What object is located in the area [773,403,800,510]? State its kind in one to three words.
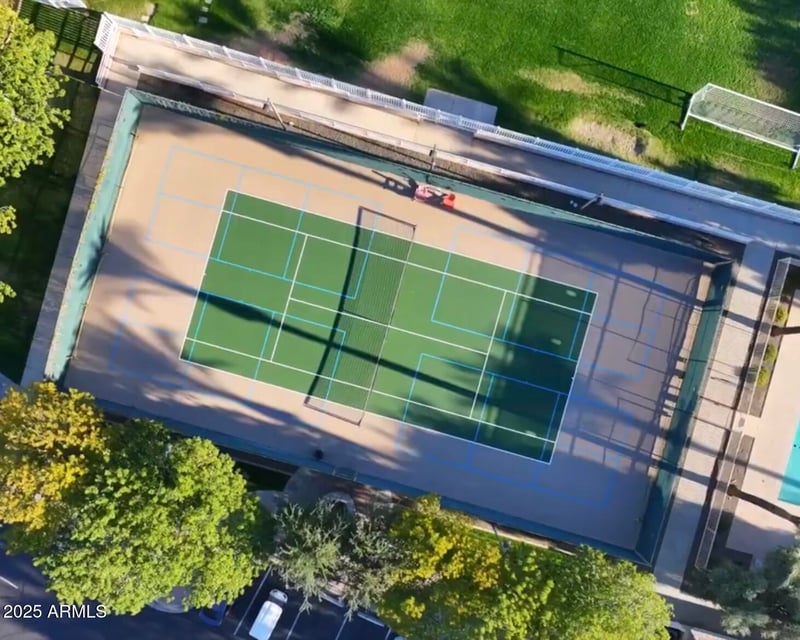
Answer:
swimming pool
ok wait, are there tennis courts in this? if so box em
[60,99,714,548]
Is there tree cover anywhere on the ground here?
Yes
